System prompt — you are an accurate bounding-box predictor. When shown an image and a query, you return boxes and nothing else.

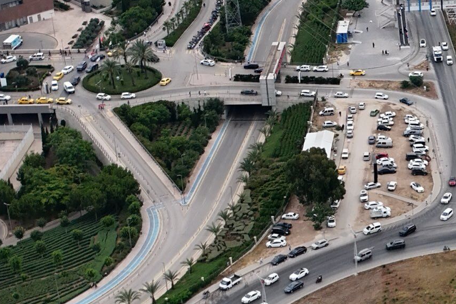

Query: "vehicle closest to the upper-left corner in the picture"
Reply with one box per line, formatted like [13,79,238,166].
[1,34,21,47]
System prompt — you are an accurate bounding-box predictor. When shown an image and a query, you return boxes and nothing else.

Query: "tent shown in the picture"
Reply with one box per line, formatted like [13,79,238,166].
[303,136,335,162]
